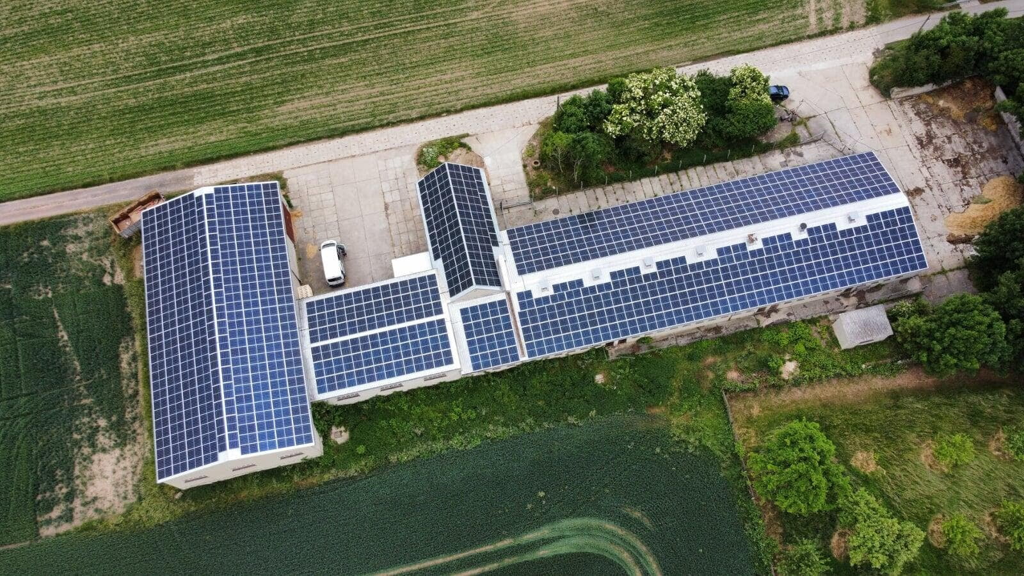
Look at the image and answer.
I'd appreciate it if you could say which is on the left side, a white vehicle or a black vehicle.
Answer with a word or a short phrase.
white vehicle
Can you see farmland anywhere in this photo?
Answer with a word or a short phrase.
Yes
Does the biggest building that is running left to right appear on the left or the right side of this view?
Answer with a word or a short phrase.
right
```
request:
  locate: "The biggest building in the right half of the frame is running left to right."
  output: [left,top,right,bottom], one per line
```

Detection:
[499,151,930,364]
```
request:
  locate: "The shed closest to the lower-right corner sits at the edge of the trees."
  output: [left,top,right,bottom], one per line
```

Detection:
[832,304,894,350]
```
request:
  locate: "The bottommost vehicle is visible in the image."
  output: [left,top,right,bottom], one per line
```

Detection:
[320,241,347,288]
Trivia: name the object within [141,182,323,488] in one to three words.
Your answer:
barn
